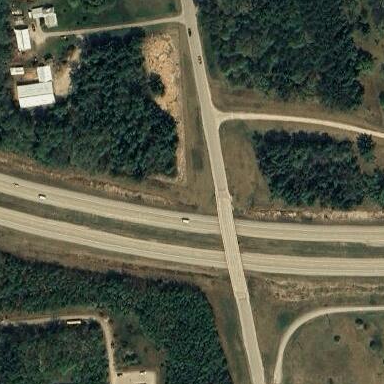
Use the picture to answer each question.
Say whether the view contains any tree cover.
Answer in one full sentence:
Yes, there's tree cover in this view.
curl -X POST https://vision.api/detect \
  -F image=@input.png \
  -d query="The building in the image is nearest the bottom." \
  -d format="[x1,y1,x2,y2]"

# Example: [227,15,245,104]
[17,81,56,108]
